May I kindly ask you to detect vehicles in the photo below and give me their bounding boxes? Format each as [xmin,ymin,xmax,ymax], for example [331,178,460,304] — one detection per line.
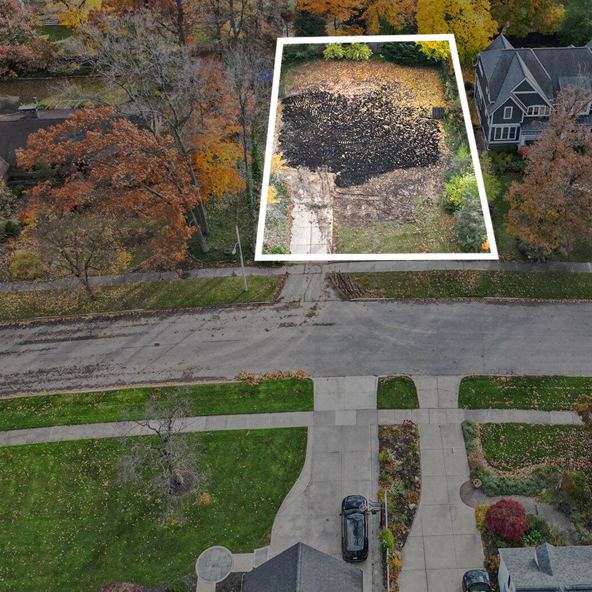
[341,496,370,564]
[463,559,496,592]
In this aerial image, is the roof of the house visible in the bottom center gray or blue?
gray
